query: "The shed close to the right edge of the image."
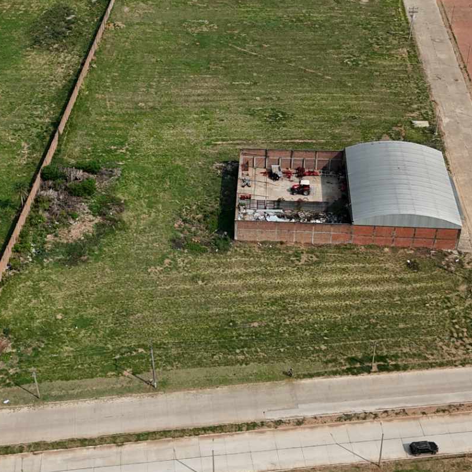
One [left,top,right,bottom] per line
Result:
[342,141,468,249]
